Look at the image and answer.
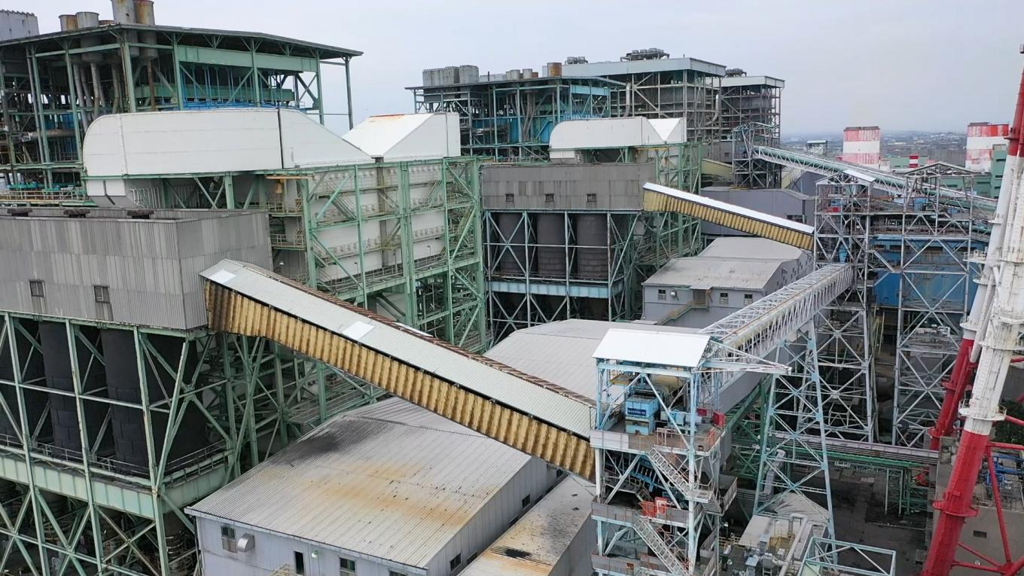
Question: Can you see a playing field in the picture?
No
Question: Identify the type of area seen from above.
industrial area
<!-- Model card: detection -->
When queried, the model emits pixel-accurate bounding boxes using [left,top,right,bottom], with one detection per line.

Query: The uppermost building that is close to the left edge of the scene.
[0,0,375,207]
